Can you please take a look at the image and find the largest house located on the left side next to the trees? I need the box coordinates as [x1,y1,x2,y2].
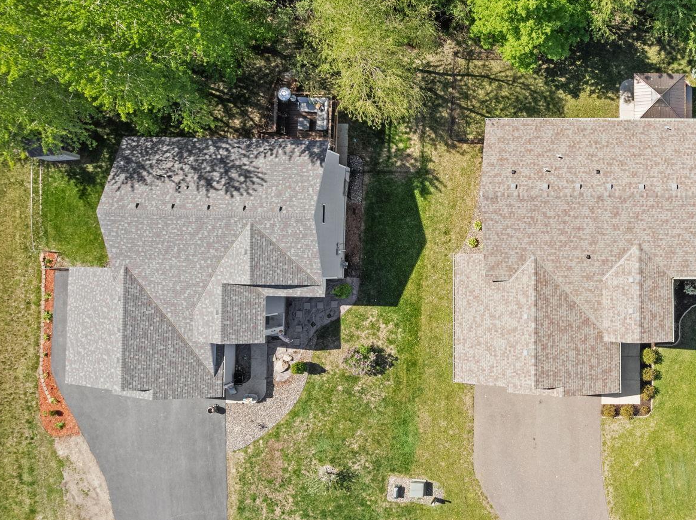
[66,138,350,399]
